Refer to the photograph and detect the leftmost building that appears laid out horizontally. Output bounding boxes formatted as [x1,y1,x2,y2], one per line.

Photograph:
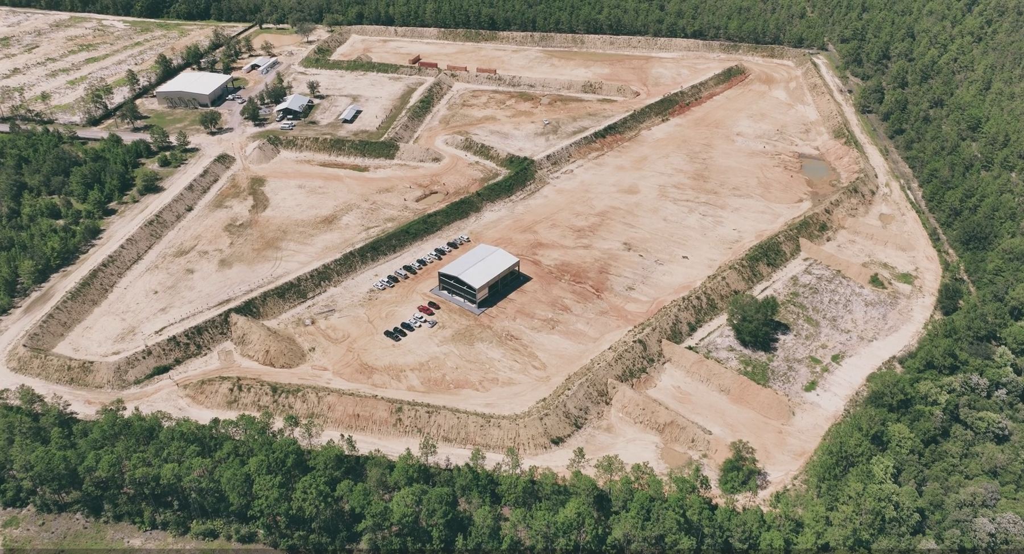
[151,70,248,107]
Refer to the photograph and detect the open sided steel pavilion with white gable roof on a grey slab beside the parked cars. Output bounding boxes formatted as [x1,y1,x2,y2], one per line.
[427,244,532,318]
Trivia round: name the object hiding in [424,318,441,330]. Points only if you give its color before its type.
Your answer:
gray vehicle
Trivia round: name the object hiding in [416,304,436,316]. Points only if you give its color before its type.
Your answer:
red vehicle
